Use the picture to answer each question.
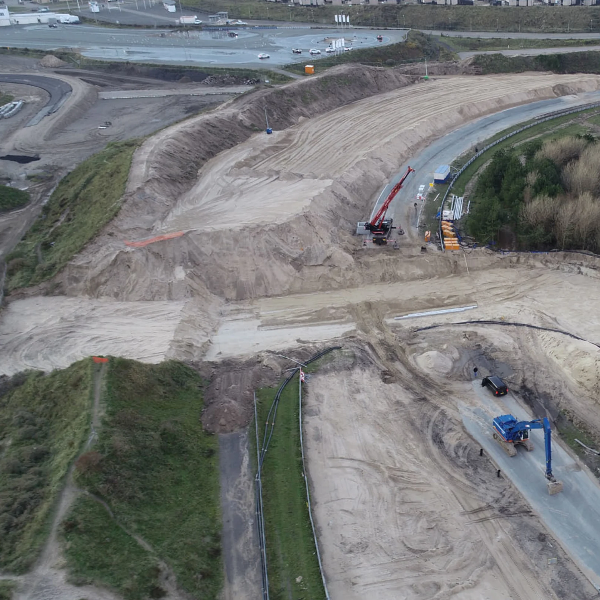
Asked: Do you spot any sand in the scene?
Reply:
Yes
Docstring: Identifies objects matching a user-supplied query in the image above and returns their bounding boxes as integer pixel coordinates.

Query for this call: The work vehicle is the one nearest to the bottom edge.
[492,411,567,498]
